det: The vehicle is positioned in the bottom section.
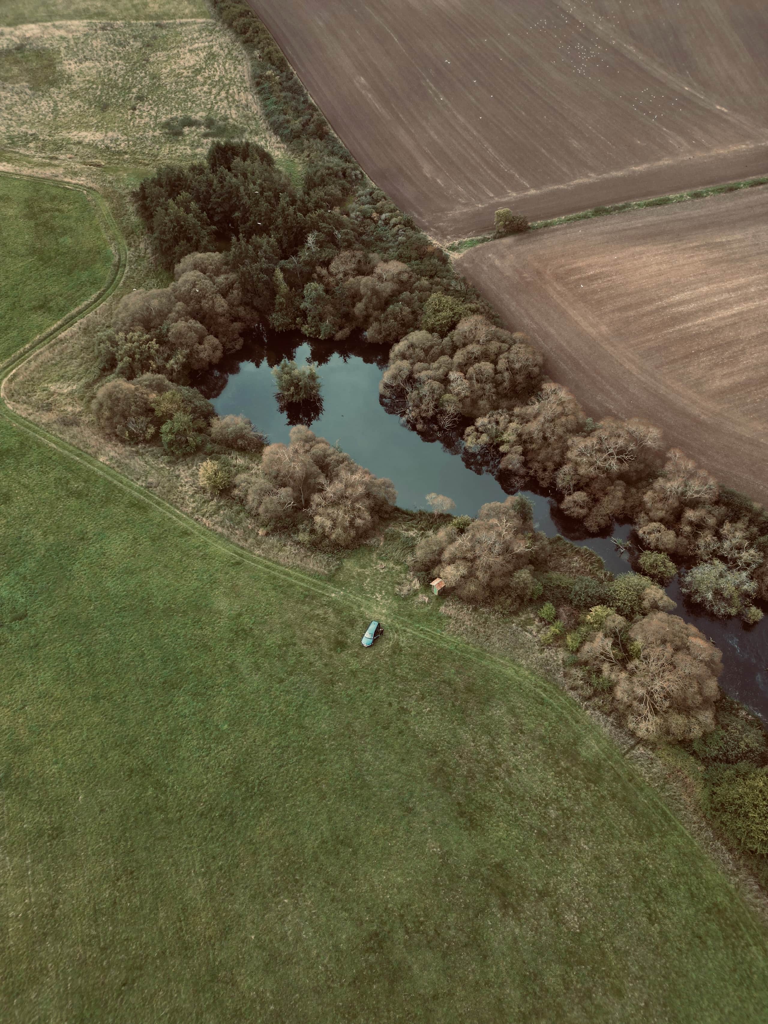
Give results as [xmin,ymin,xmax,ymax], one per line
[361,621,380,647]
